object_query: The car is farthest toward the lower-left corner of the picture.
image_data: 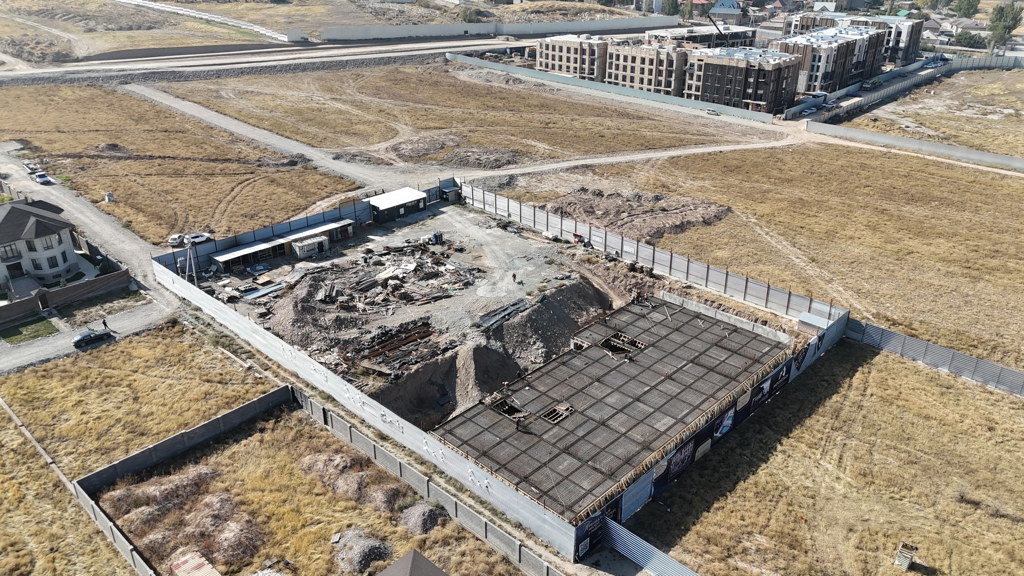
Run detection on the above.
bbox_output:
[75,328,113,346]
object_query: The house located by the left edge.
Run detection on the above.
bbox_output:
[0,201,78,282]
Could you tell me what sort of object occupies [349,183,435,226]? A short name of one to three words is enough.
building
